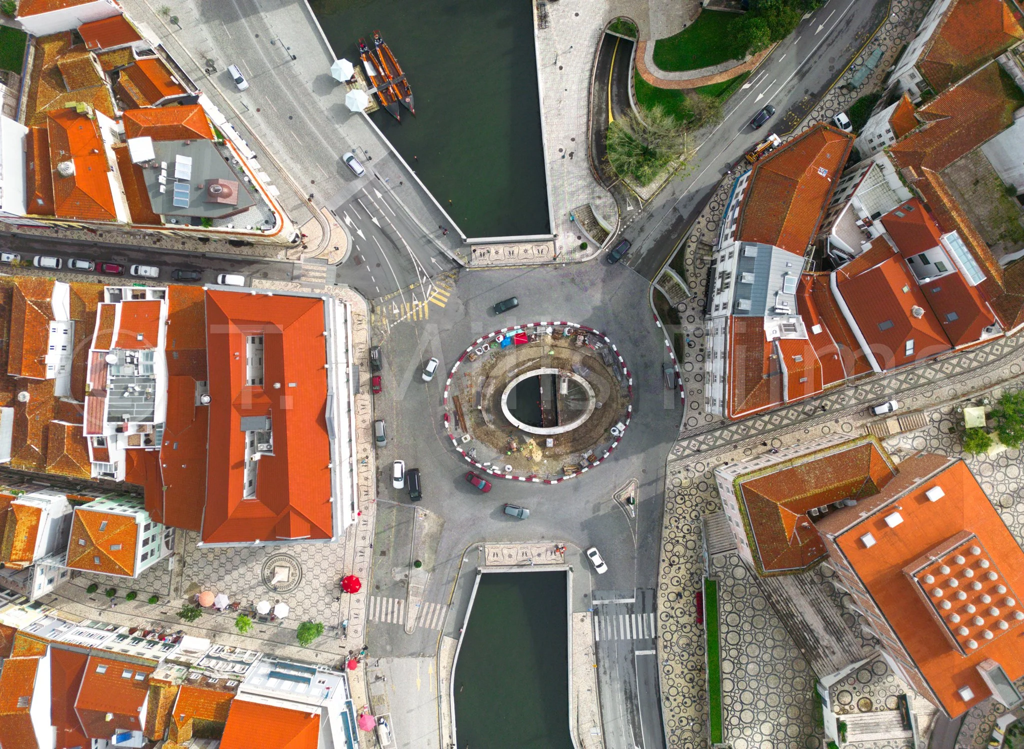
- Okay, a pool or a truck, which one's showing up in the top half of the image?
truck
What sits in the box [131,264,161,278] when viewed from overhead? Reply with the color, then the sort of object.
white car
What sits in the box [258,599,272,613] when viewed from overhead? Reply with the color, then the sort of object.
white umbrella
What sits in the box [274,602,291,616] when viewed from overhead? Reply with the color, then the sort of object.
white umbrella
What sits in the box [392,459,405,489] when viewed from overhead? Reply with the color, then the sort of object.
white vehicle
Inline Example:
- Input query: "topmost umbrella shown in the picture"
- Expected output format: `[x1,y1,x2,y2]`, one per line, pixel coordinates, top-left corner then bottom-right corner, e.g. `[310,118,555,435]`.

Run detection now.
[332,60,355,83]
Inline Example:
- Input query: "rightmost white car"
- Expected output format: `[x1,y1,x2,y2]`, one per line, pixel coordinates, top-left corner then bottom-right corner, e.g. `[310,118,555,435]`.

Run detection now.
[869,400,897,417]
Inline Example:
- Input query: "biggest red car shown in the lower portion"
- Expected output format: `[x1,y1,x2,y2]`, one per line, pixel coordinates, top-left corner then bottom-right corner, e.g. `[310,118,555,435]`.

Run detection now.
[464,471,492,493]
